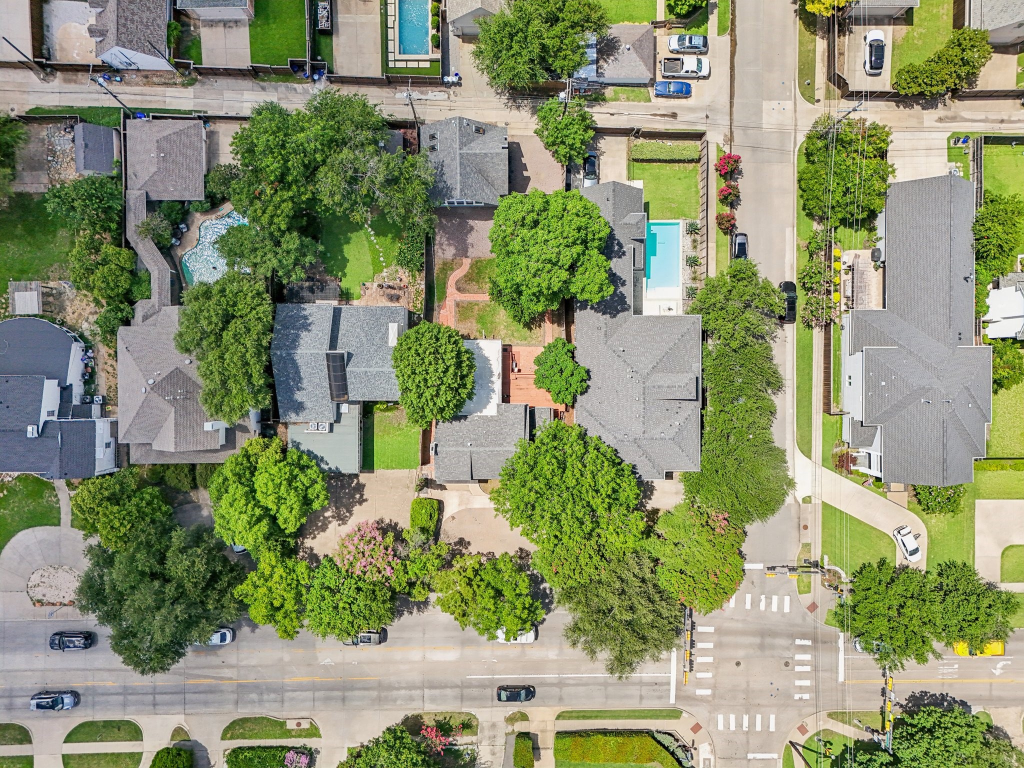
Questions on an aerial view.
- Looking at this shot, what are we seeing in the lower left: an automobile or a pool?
automobile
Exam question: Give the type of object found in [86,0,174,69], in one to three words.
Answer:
house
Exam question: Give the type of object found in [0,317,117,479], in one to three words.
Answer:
house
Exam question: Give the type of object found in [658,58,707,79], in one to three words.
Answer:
truck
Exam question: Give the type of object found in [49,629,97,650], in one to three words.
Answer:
car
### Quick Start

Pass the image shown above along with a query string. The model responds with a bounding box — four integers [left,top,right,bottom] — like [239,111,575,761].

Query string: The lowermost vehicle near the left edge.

[30,689,81,711]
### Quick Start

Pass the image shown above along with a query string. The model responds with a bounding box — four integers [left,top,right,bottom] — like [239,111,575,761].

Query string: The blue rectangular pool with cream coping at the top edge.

[395,0,432,58]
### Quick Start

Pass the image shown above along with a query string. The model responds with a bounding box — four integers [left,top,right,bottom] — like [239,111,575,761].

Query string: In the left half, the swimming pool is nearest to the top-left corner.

[179,212,257,298]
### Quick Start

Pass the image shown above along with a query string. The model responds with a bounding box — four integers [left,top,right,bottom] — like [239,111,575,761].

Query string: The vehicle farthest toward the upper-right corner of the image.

[862,35,884,76]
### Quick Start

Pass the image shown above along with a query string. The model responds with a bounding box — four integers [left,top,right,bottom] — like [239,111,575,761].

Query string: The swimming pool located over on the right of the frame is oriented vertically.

[643,221,682,315]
